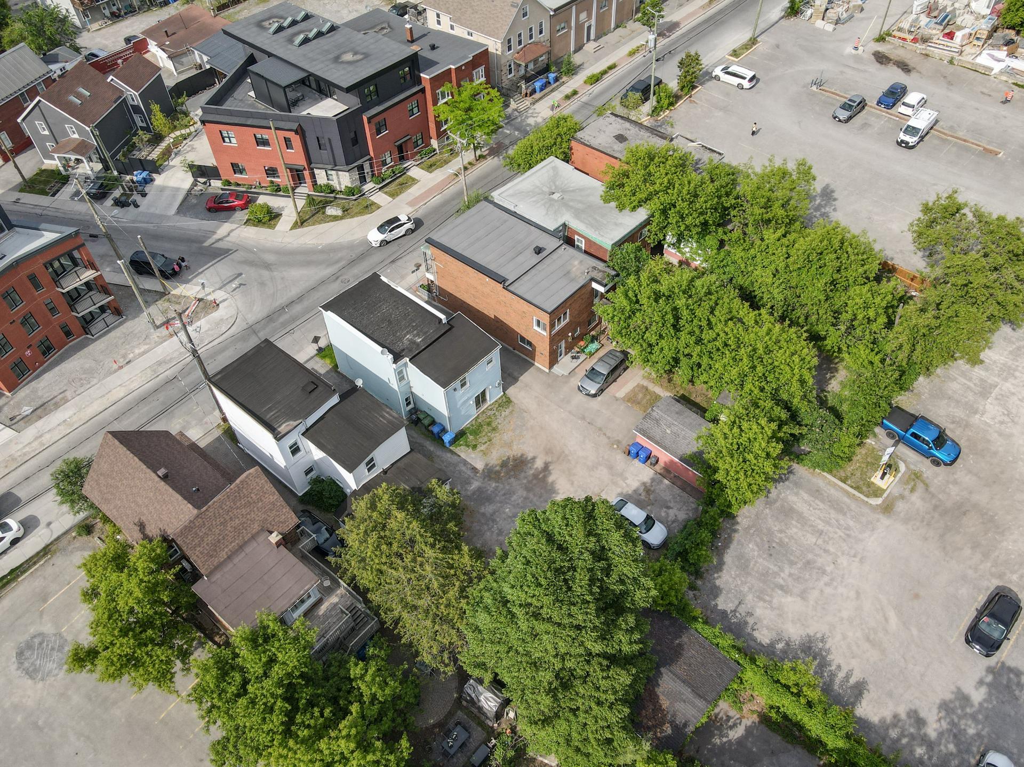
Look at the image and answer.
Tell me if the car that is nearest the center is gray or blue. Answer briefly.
gray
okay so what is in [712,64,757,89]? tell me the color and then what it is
white car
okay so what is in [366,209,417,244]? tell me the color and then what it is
white car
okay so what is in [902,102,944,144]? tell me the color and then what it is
white van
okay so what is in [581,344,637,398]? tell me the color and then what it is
gray car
